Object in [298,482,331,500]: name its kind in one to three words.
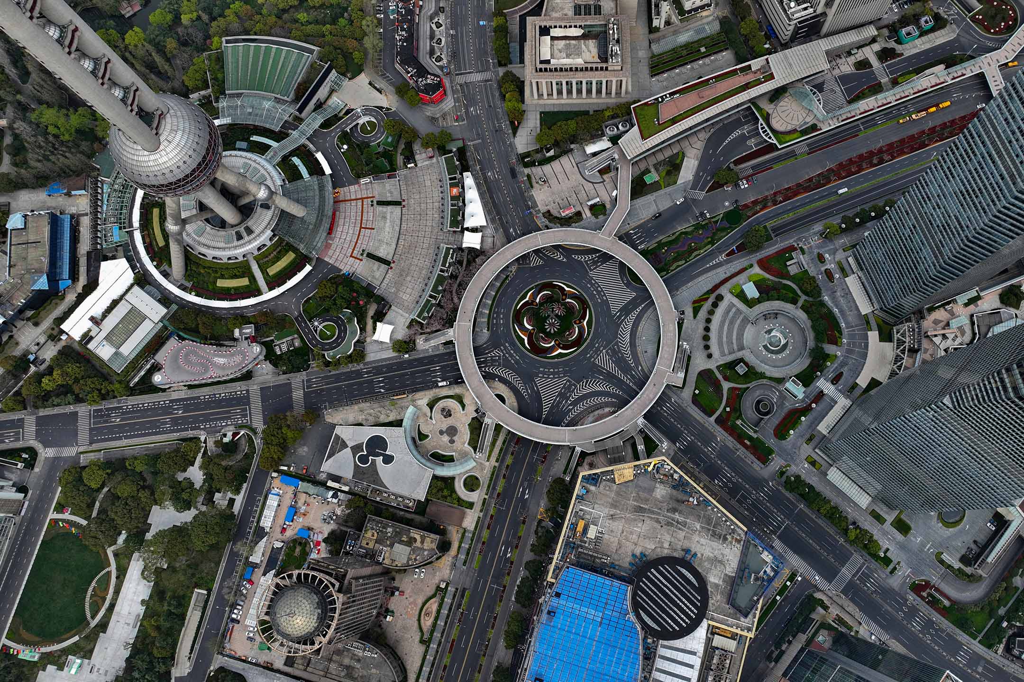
tent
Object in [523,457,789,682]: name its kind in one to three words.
building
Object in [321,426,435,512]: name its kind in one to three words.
building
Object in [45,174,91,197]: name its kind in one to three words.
shed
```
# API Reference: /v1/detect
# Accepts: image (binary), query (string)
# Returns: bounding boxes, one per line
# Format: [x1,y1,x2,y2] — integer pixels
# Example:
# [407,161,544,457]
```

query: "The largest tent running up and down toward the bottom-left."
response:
[262,494,281,535]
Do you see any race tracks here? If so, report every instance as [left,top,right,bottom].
[152,339,267,388]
